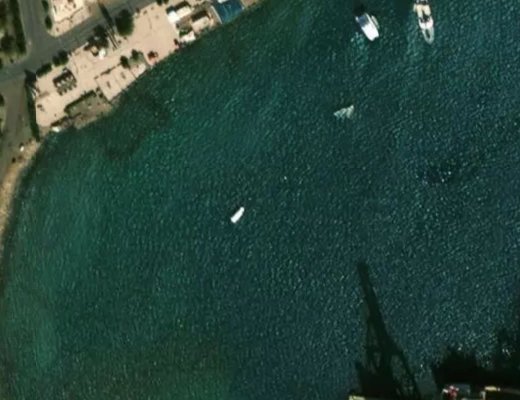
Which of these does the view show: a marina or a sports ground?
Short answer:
marina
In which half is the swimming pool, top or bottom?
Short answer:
top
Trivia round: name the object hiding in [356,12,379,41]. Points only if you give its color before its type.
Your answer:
white boat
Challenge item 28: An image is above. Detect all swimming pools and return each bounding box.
[210,0,247,26]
